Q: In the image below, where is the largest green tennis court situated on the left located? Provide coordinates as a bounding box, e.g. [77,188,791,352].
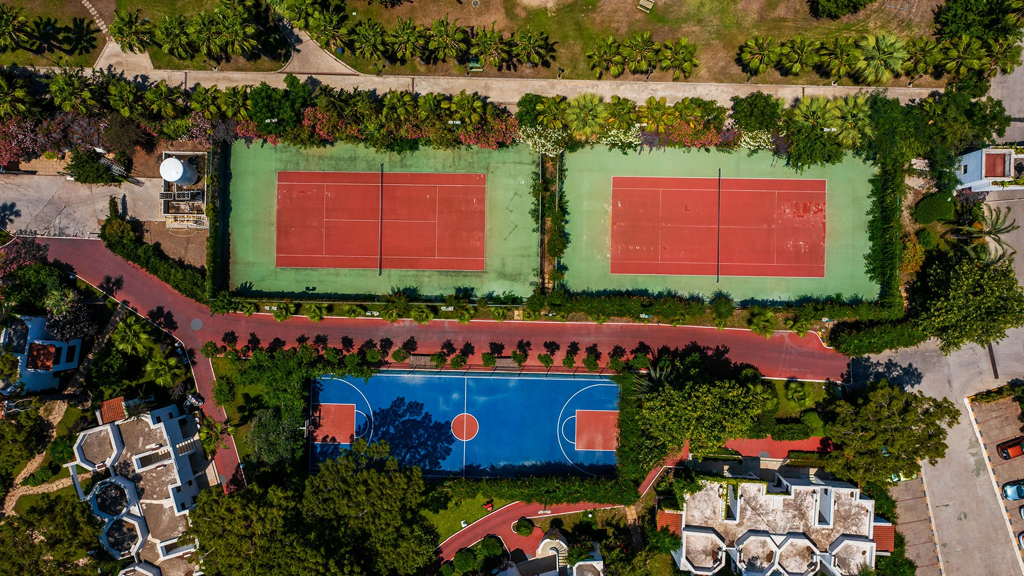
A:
[226,138,540,301]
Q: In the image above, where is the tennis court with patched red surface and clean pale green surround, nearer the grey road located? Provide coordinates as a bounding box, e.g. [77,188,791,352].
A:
[558,141,880,306]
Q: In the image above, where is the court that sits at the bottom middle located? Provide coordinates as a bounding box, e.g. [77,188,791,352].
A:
[309,369,621,478]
